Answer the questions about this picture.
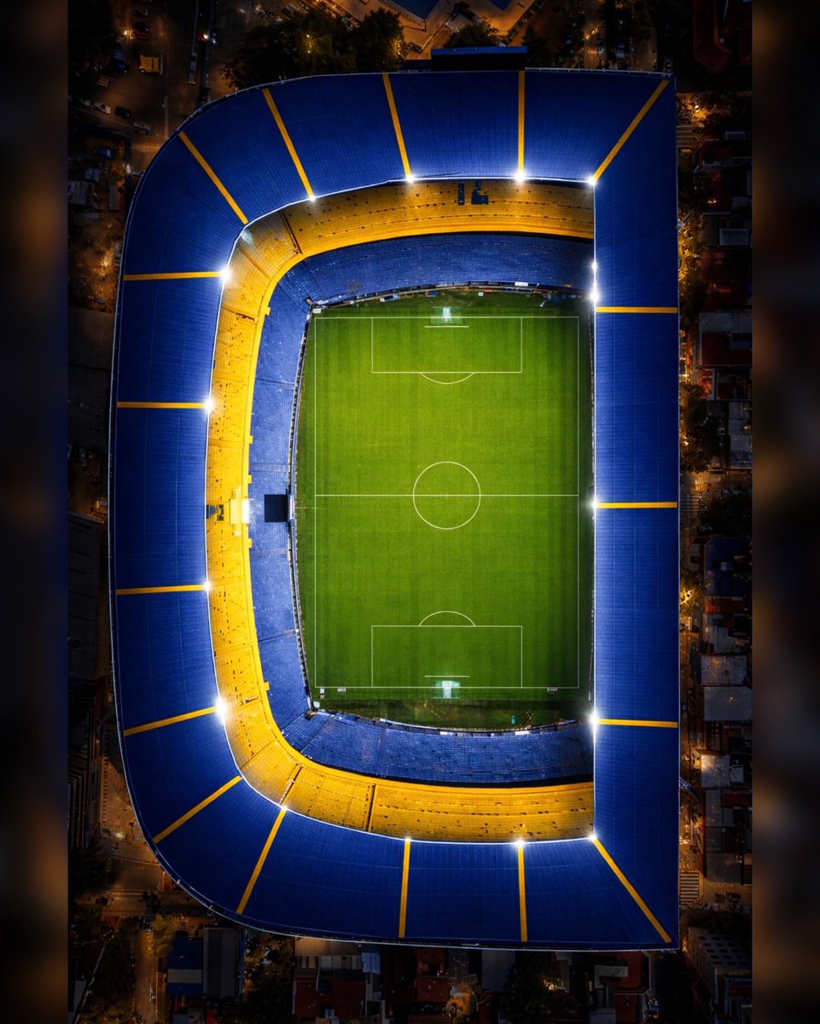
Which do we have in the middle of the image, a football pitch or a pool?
football pitch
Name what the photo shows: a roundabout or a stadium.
stadium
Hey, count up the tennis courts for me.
none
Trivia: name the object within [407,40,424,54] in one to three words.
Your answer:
car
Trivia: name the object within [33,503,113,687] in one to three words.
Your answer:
house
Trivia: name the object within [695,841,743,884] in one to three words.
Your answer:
house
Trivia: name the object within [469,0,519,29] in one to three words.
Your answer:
building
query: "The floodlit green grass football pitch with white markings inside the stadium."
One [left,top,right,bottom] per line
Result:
[298,291,593,722]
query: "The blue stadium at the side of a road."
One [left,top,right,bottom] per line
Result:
[107,43,678,953]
